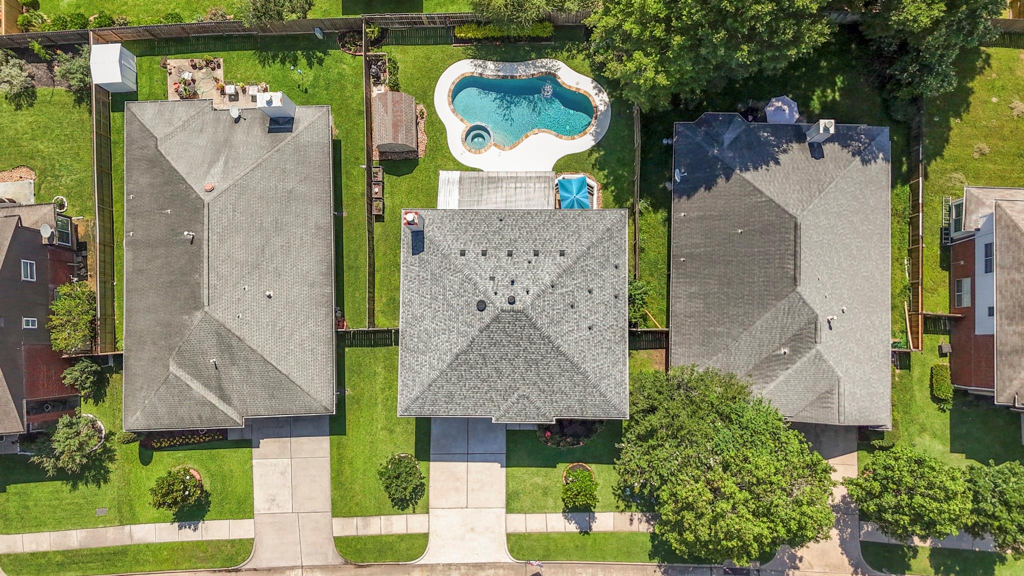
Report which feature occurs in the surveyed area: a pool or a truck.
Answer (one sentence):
Looking from above, you can make out a pool.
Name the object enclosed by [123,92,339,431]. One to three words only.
house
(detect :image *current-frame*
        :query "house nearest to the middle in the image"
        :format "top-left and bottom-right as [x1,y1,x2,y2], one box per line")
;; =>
[397,208,630,423]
